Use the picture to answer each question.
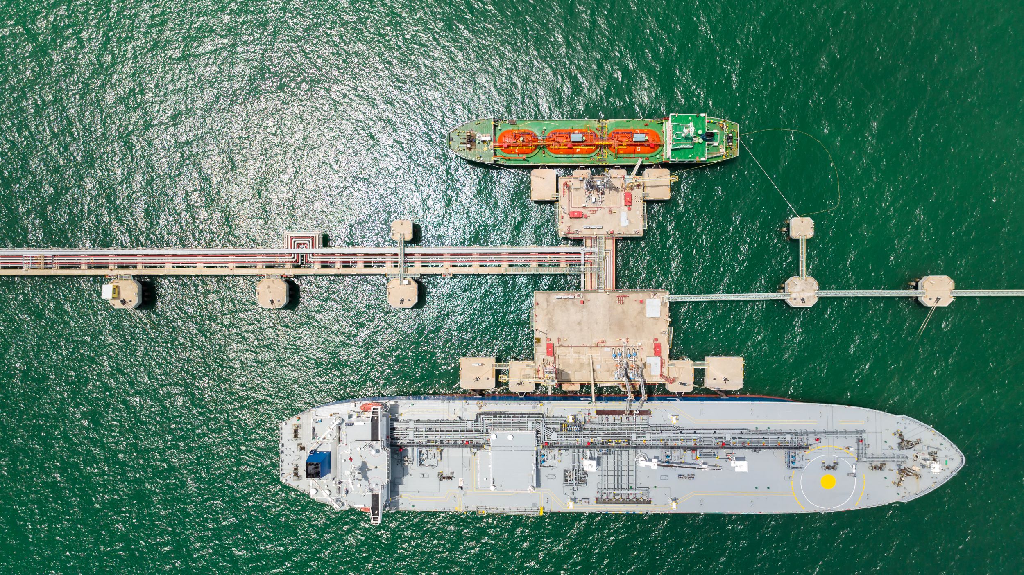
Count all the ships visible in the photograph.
two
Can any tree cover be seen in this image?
No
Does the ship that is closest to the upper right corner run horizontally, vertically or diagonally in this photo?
horizontally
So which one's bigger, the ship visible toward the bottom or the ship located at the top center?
the ship visible toward the bottom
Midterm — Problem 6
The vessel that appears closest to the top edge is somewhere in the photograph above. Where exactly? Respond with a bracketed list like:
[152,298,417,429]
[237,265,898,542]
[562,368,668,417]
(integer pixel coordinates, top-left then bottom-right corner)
[446,112,740,167]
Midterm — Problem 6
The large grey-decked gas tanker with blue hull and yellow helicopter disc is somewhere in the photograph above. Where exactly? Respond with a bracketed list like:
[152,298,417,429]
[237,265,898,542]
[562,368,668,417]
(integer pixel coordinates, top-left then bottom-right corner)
[280,395,966,526]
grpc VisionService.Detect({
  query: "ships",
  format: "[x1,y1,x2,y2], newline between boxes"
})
[446,112,740,167]
[280,395,966,526]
